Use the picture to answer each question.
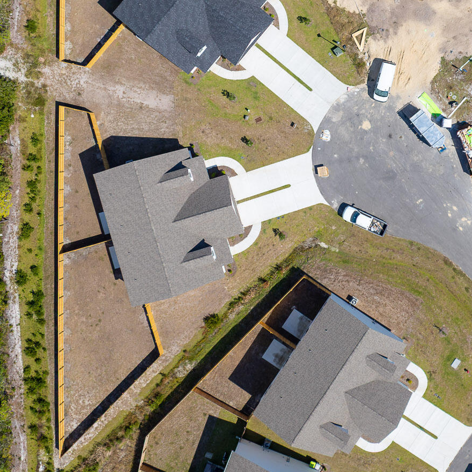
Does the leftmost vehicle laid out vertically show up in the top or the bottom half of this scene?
top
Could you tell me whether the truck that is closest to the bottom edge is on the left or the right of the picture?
right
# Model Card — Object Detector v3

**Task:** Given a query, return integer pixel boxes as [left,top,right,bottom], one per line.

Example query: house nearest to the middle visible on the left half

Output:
[93,147,246,306]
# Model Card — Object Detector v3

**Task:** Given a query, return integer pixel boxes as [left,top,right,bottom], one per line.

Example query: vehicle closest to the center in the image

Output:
[341,205,388,237]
